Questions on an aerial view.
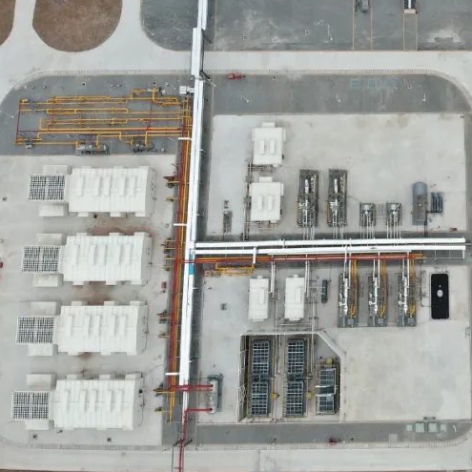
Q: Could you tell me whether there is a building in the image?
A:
Yes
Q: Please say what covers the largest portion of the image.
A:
paved ground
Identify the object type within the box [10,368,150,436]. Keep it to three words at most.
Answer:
building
